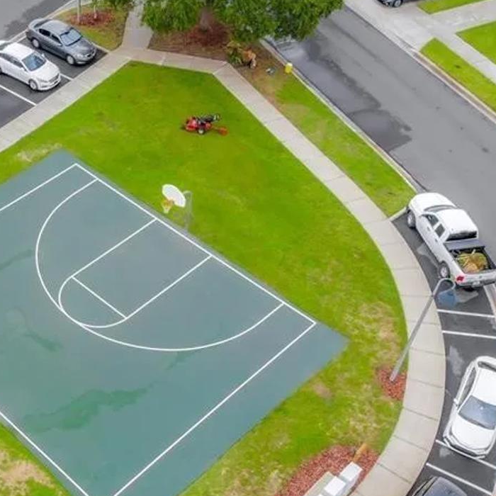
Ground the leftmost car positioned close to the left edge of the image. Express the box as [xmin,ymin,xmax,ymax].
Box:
[0,43,58,94]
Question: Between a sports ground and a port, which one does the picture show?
sports ground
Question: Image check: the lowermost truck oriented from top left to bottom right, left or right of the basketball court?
to the right of it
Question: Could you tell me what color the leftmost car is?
white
